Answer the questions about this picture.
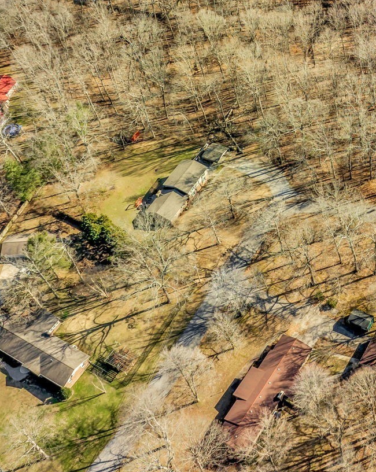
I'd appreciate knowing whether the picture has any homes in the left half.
Yes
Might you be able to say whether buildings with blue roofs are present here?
No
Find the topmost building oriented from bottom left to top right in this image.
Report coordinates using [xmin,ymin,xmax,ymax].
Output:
[143,143,227,226]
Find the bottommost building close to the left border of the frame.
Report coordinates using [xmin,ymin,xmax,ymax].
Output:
[0,310,90,389]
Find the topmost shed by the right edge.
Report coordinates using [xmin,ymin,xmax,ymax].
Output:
[348,311,374,332]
